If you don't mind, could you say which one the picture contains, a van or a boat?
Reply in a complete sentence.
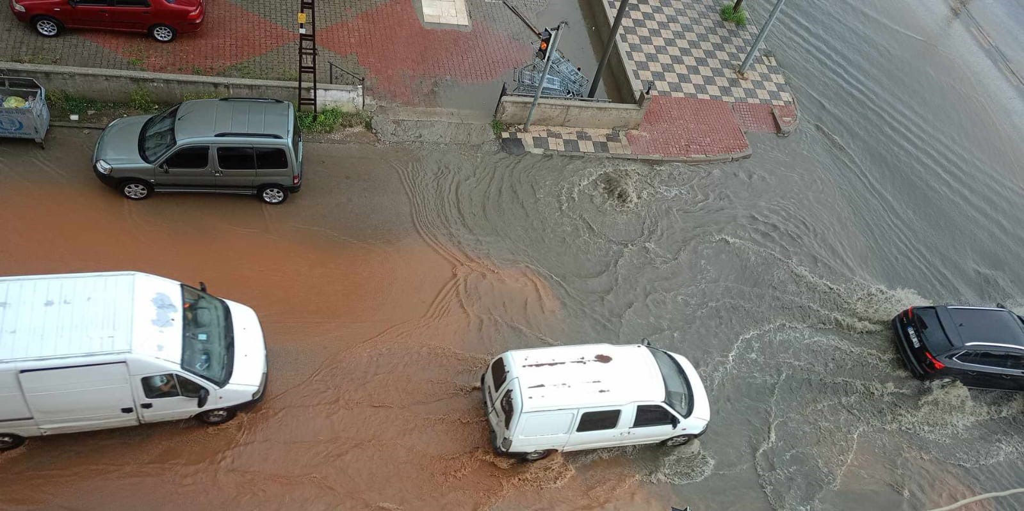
This aerial view contains a van.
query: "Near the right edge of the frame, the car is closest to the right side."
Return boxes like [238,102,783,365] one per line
[892,304,1024,395]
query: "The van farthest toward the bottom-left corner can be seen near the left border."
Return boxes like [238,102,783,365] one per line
[0,278,268,453]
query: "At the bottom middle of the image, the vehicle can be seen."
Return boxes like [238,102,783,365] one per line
[482,337,714,462]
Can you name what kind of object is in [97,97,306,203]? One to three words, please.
car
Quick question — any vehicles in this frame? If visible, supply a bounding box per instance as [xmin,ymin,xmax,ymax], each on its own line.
[0,278,268,453]
[12,0,208,44]
[482,337,714,462]
[97,97,306,203]
[892,304,1024,395]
